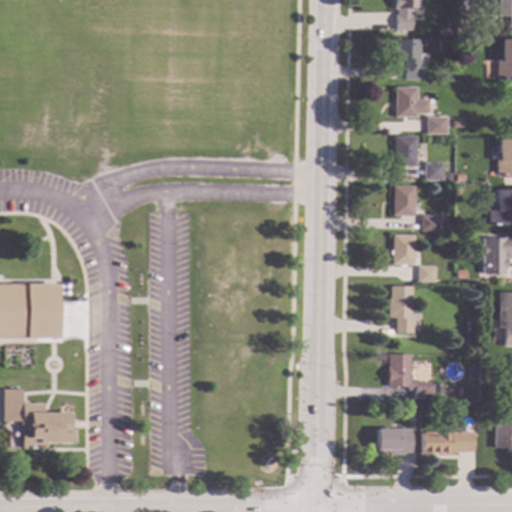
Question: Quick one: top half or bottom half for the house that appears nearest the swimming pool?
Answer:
bottom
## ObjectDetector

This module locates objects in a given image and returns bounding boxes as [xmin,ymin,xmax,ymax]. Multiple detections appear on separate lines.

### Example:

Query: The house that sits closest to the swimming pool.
[389,354,437,395]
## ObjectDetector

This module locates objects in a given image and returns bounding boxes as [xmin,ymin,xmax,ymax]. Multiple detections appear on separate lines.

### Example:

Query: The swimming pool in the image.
[446,364,464,380]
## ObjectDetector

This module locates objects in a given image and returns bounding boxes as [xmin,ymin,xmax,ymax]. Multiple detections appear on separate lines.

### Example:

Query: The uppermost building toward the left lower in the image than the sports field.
[0,283,62,338]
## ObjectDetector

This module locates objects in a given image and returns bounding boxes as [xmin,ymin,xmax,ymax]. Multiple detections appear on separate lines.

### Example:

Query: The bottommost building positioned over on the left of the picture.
[2,388,78,450]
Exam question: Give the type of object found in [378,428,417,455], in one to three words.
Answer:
house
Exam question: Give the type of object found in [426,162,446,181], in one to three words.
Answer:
building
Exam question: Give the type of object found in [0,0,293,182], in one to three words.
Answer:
sports field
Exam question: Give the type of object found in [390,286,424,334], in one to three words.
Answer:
house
